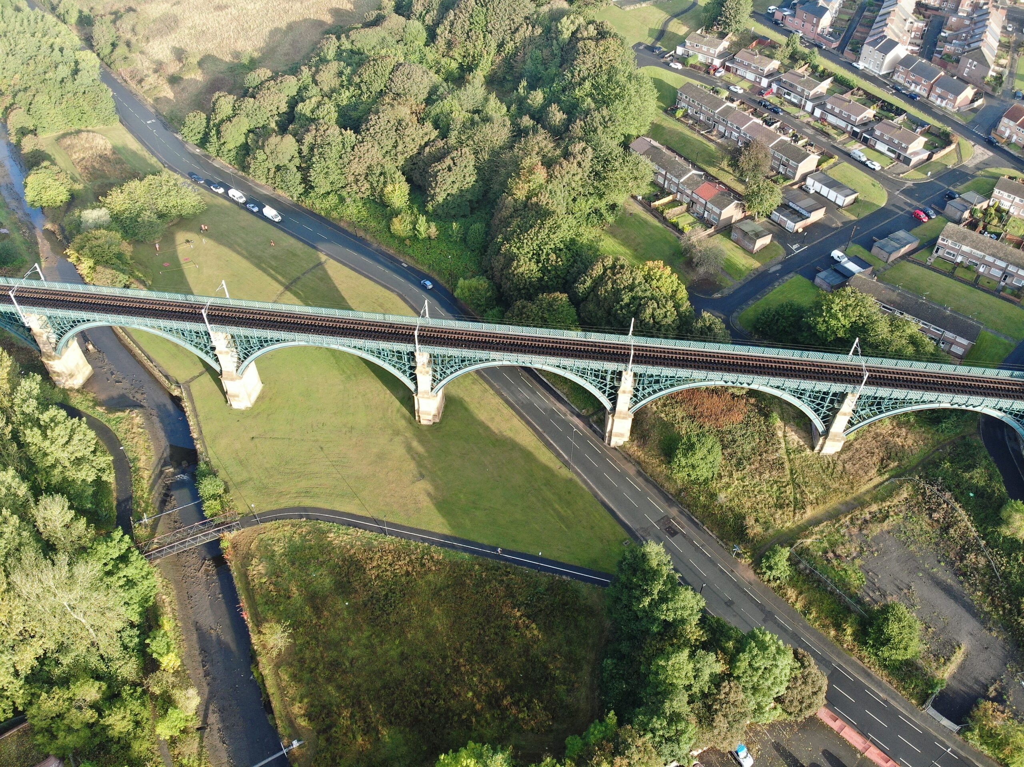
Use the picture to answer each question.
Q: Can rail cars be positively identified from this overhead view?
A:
No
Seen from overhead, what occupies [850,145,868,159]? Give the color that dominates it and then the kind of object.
white vehicle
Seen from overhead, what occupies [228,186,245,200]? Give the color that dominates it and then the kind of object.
white vehicle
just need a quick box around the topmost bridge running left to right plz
[0,277,1024,454]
